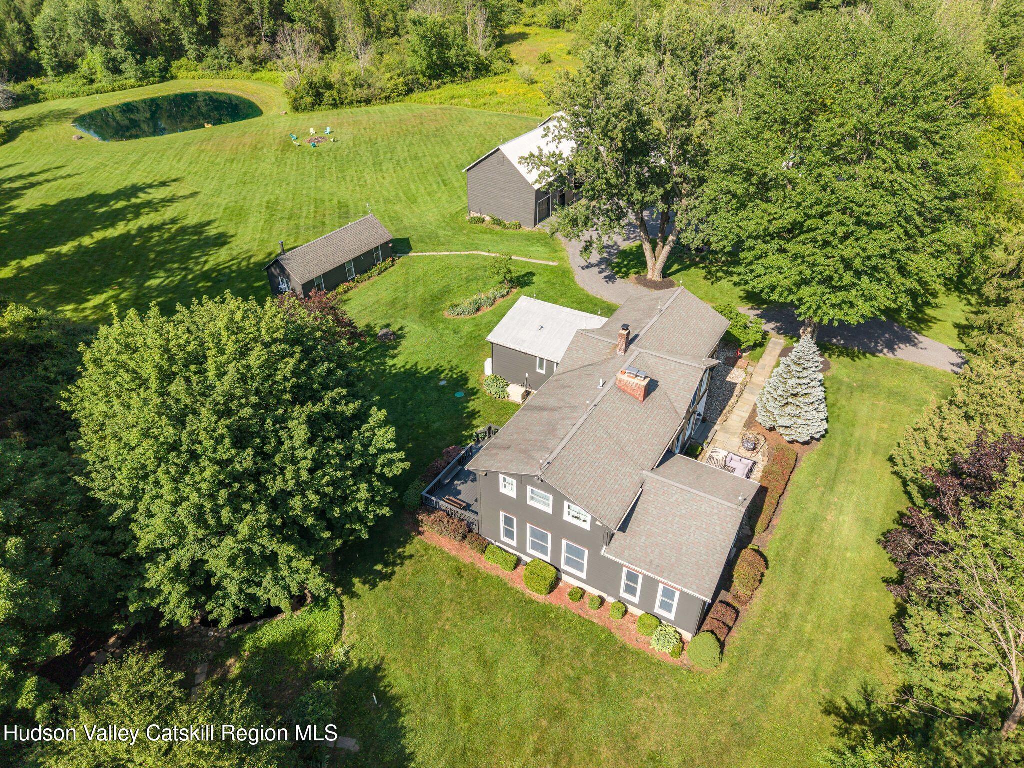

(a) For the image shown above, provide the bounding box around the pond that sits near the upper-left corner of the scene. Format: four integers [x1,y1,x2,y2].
[71,91,264,143]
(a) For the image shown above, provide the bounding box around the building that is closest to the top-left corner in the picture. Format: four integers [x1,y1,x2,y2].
[264,203,392,296]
